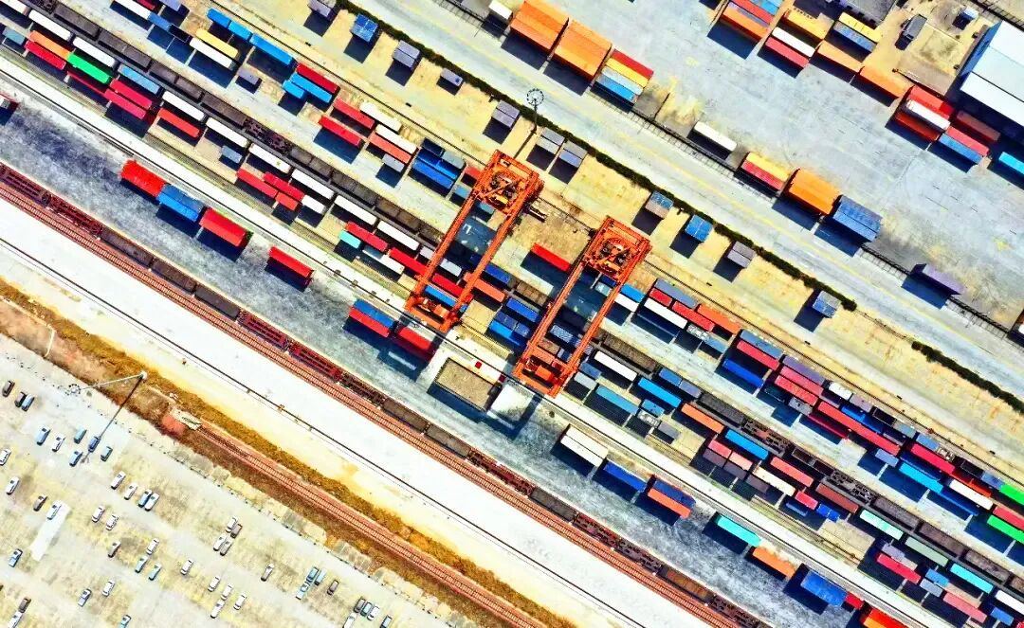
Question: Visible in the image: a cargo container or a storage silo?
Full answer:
Looking from above, you can make out a cargo container.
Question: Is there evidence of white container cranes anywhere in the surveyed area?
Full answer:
No, no white container crane is visible in the scene.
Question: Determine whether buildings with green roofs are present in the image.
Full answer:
No, there is no building with a green roof in the image.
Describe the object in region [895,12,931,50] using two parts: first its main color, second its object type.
gray truck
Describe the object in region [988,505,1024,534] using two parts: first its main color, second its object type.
red shipping container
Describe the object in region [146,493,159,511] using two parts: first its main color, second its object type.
white vehicle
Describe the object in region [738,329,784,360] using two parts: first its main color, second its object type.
blue shipping container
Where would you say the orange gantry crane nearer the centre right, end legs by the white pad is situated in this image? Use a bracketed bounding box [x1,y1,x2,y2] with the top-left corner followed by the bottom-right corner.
[505,217,649,402]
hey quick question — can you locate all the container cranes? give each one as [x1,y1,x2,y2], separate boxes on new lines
[403,151,538,341]
[505,217,649,402]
